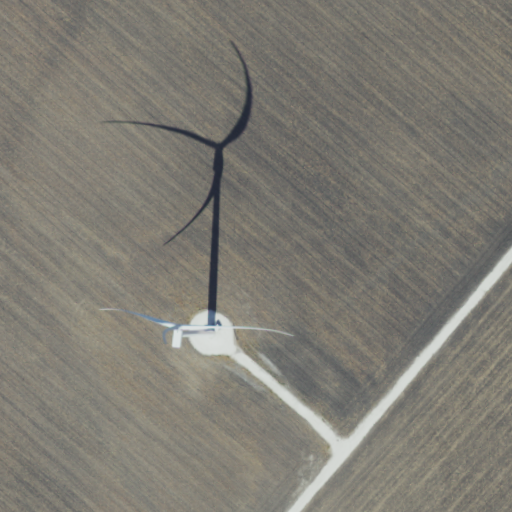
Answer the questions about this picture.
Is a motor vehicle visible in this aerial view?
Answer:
No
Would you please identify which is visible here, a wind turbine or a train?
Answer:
wind turbine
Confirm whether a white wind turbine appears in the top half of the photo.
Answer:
No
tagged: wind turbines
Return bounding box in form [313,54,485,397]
[83,308,292,348]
